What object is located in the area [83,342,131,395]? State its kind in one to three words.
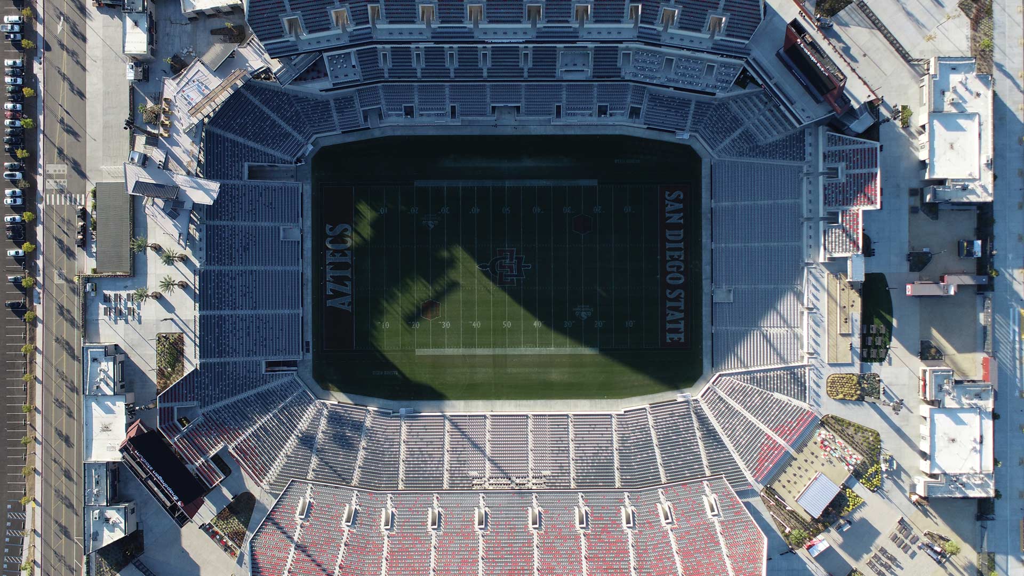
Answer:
building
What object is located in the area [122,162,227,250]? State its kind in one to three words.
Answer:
building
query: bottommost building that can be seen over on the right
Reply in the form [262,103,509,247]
[790,469,840,517]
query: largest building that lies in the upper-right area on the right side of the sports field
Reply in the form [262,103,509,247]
[912,57,993,204]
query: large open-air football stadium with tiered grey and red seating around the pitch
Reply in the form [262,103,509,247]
[156,0,822,576]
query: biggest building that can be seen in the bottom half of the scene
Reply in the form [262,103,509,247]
[912,367,994,497]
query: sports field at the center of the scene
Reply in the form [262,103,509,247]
[312,134,702,400]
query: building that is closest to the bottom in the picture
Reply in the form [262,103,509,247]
[84,501,137,555]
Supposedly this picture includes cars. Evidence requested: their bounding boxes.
[5,84,22,92]
[3,215,22,223]
[2,75,22,84]
[1,31,23,40]
[4,58,22,66]
[4,67,22,75]
[4,94,23,101]
[5,232,23,240]
[3,110,22,118]
[4,224,23,232]
[4,301,22,308]
[4,102,22,110]
[5,275,23,283]
[0,22,21,31]
[2,127,22,135]
[3,172,20,179]
[2,118,21,127]
[2,197,22,205]
[4,161,20,169]
[6,249,24,257]
[3,189,22,196]
[1,135,21,144]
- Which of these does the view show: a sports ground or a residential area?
sports ground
